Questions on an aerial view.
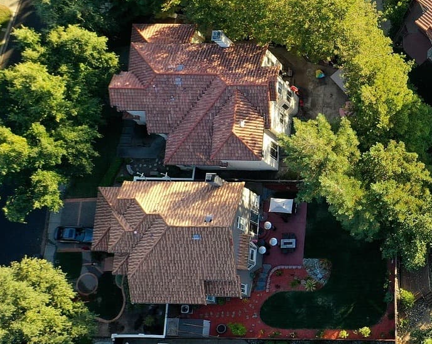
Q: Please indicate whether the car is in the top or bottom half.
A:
bottom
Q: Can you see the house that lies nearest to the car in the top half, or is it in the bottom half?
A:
bottom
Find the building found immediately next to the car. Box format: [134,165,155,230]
[89,172,260,304]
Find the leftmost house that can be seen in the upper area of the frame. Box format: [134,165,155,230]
[108,22,295,172]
